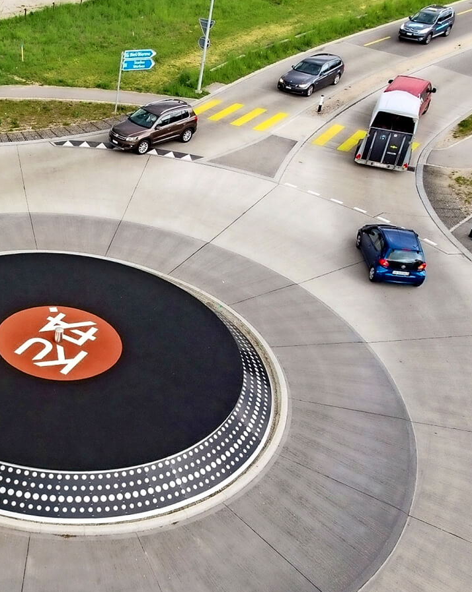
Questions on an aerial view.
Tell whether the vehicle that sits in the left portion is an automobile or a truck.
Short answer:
automobile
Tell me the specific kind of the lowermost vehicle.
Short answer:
automobile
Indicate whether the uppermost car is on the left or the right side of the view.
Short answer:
right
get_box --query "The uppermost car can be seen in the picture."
[396,0,459,43]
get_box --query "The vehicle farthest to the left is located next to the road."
[107,95,201,154]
